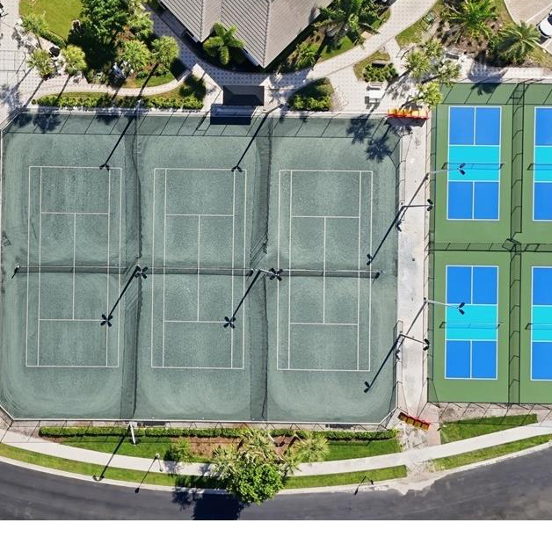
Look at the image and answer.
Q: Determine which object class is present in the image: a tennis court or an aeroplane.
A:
tennis court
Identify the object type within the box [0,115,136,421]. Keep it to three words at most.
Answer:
tennis court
